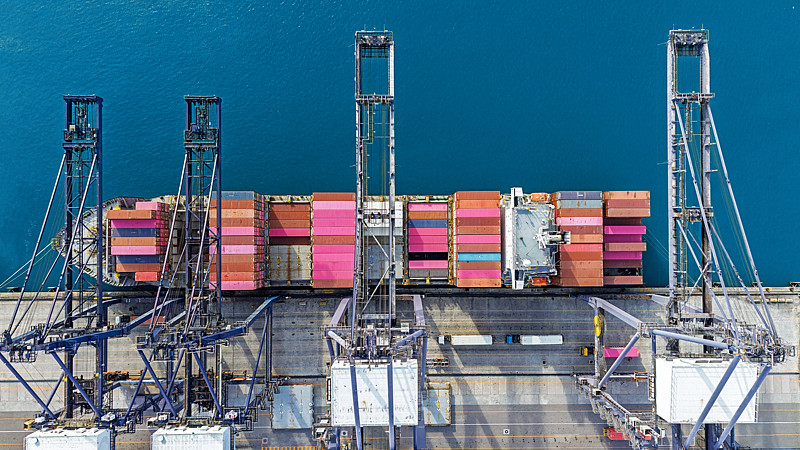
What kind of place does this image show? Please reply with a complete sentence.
It's a port.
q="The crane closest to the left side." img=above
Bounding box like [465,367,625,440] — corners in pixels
[0,85,198,450]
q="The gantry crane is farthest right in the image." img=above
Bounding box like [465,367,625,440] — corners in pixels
[573,19,800,450]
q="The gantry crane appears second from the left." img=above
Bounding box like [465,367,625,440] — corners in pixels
[136,85,291,450]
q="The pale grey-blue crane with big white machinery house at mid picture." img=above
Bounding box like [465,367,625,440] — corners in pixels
[318,19,430,450]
